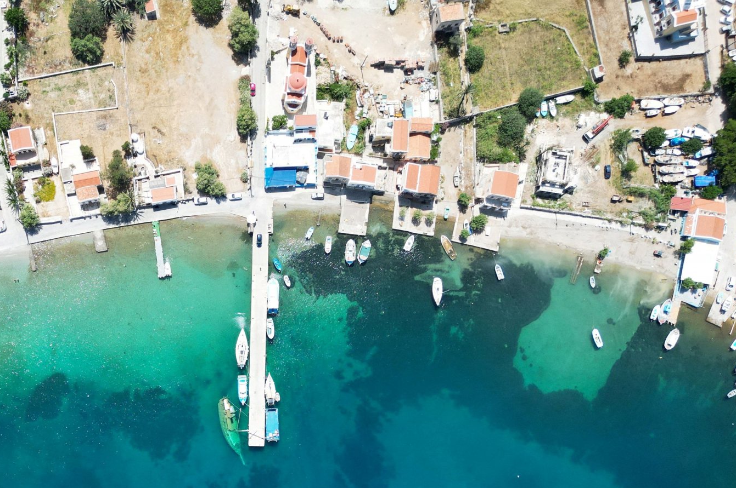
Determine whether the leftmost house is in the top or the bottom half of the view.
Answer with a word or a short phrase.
top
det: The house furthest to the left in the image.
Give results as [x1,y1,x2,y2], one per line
[7,125,44,178]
